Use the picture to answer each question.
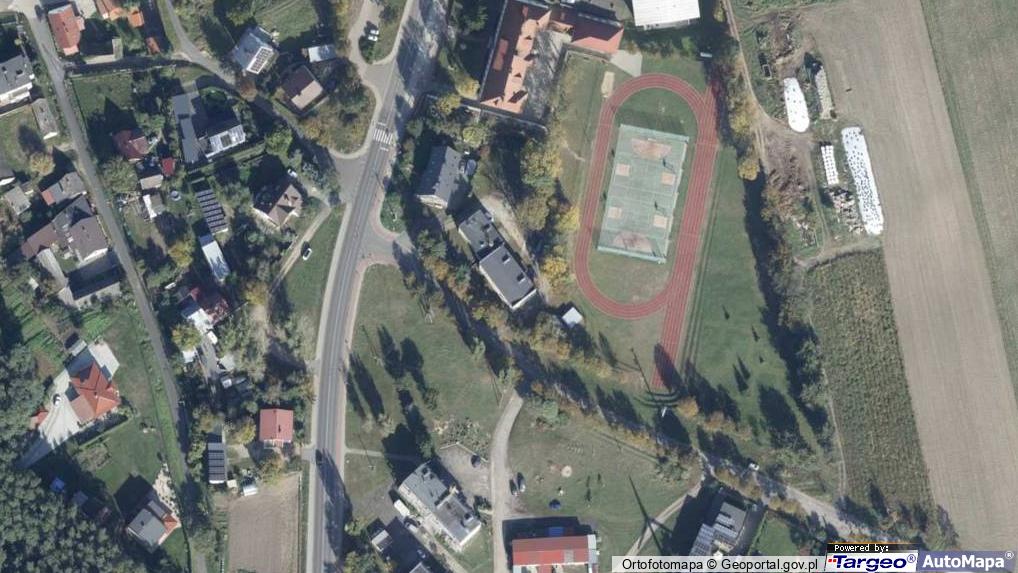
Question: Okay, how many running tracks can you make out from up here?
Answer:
1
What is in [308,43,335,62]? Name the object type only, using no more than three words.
shed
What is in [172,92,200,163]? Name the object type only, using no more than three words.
shed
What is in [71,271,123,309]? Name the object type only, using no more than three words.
barn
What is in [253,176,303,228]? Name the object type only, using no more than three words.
house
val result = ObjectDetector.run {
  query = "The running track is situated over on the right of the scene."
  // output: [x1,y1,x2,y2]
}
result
[575,74,726,388]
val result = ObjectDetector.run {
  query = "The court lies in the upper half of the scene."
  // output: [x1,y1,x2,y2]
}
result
[599,125,689,263]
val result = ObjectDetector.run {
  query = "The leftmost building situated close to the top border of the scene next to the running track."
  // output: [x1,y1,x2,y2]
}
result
[480,0,623,116]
